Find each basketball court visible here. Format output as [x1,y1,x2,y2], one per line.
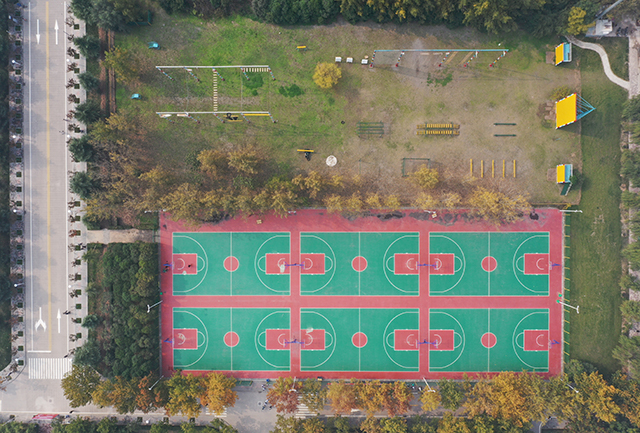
[429,308,549,371]
[172,308,291,371]
[429,232,549,296]
[301,308,419,371]
[301,232,419,296]
[172,232,291,296]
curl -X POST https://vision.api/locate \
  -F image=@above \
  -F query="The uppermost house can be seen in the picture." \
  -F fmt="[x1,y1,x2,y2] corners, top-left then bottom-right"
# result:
[580,20,614,41]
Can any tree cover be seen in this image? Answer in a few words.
Yes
